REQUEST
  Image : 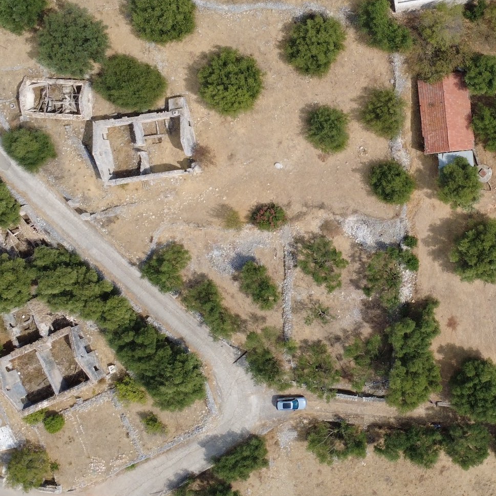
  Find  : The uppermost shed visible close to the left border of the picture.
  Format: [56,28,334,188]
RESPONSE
[19,77,99,120]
